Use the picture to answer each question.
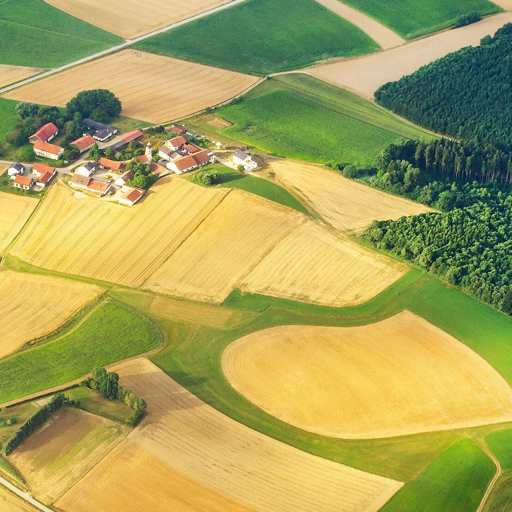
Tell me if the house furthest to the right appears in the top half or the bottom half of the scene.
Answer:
top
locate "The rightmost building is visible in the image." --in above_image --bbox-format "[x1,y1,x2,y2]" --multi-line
[232,148,259,170]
